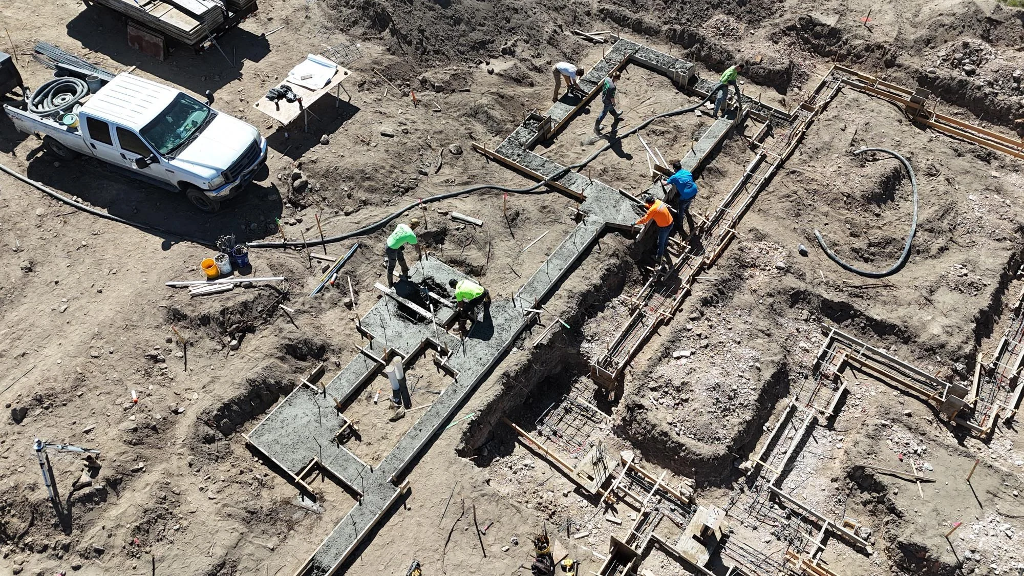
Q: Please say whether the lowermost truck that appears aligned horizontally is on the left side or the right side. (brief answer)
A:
left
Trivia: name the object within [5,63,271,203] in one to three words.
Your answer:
truck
